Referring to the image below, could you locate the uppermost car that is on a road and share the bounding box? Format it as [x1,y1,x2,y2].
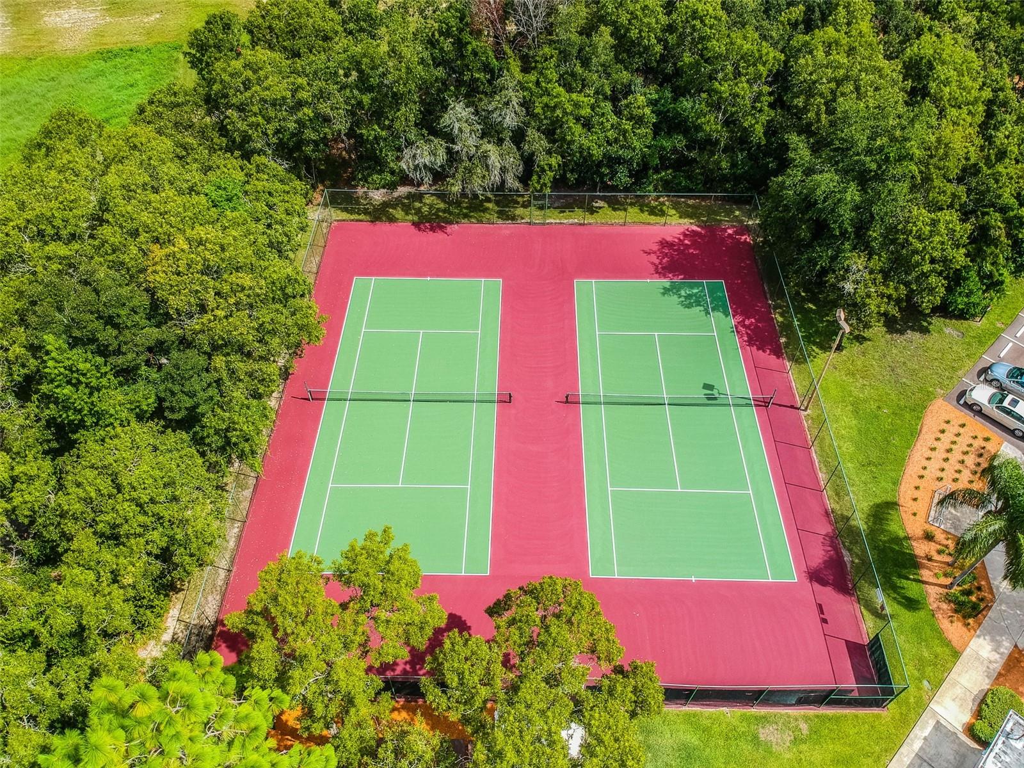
[985,361,1024,399]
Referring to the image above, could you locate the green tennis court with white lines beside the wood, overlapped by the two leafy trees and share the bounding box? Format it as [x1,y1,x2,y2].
[206,224,539,705]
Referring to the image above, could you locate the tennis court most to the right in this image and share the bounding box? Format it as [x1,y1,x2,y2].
[538,225,895,713]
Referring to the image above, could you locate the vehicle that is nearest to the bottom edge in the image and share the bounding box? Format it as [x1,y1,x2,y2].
[965,385,1024,437]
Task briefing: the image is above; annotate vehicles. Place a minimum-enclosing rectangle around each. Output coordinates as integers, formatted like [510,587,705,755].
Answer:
[985,361,1024,399]
[965,385,1024,437]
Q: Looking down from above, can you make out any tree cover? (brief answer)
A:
Yes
